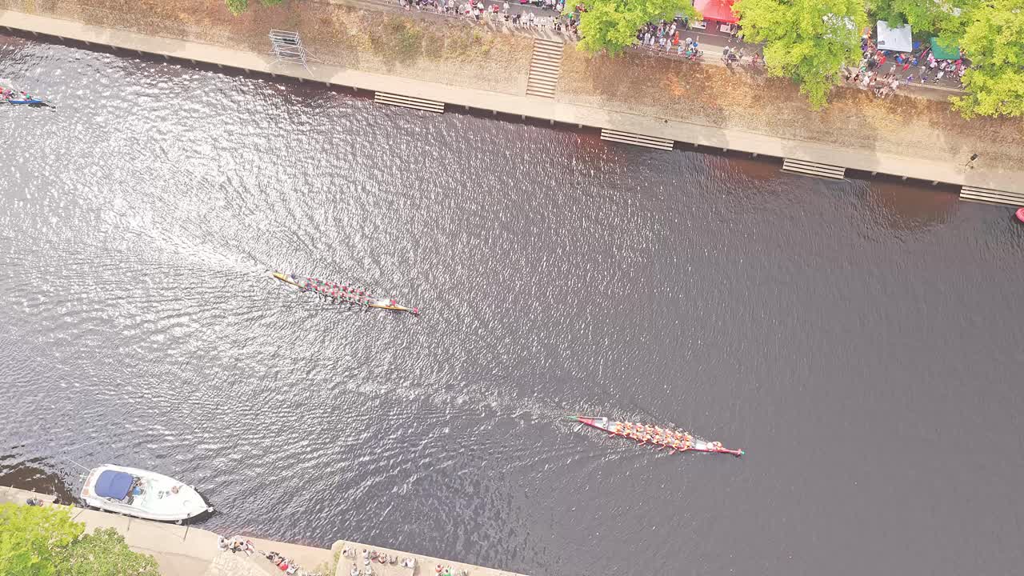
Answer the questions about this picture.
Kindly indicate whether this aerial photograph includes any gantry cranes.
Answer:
No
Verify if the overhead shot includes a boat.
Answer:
Yes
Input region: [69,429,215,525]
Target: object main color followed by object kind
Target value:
white boat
